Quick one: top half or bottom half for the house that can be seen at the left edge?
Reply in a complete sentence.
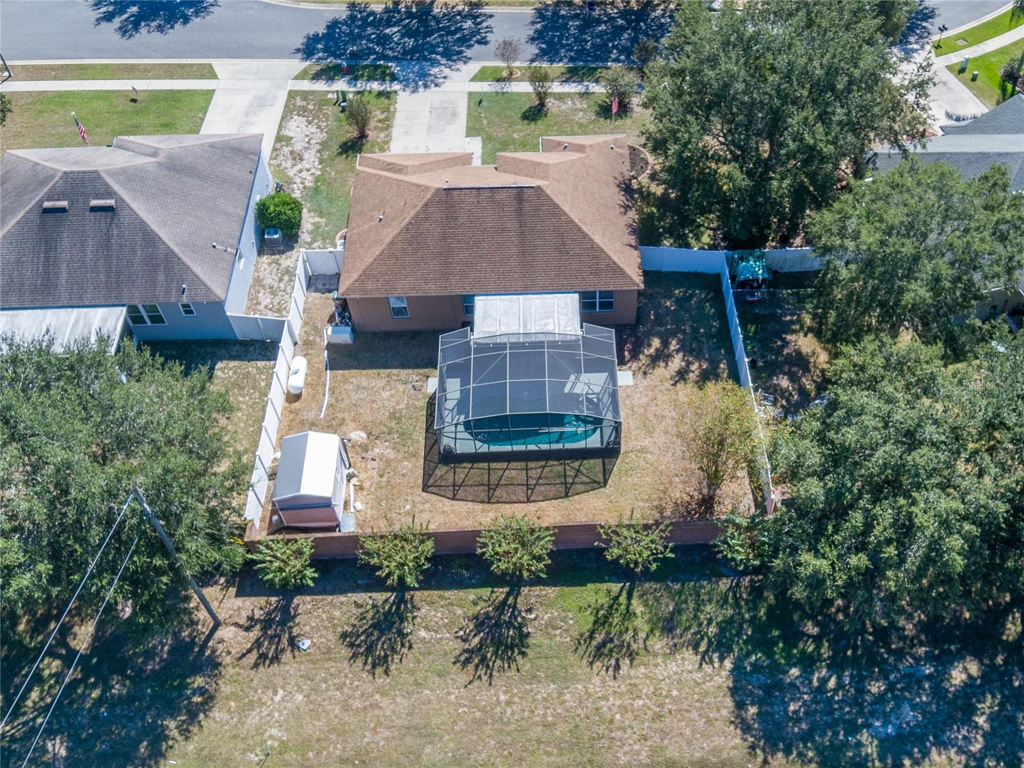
Seen from above, the house that can be seen at the left edge lies in the top half of the view.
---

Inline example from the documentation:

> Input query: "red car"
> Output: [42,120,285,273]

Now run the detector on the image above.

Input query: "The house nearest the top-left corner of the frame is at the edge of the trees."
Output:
[0,129,273,342]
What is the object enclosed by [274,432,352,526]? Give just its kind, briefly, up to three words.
shed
